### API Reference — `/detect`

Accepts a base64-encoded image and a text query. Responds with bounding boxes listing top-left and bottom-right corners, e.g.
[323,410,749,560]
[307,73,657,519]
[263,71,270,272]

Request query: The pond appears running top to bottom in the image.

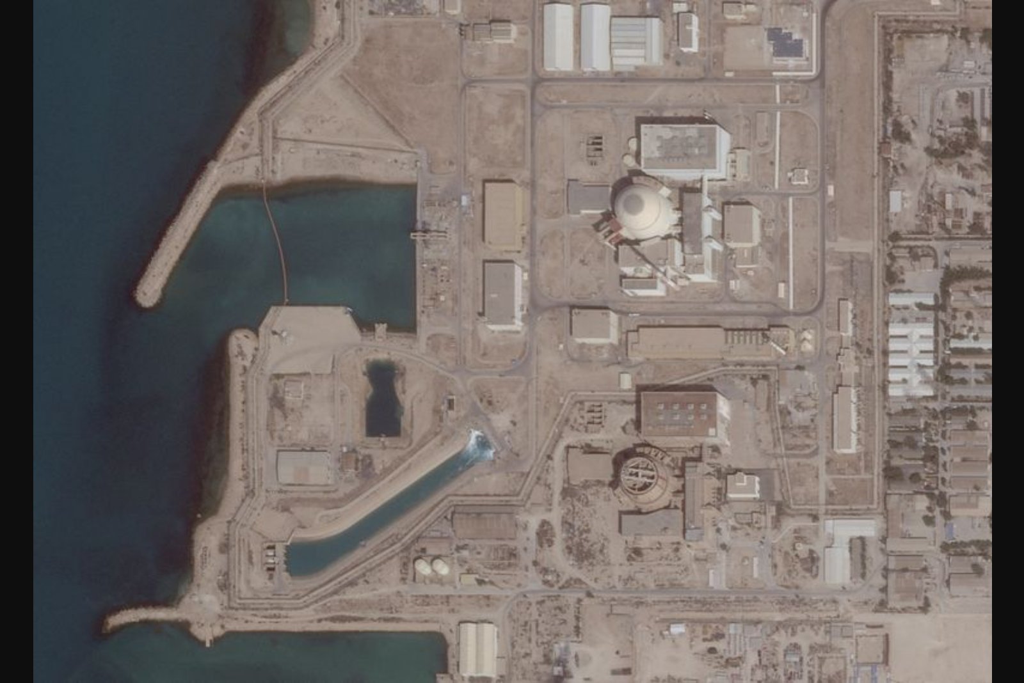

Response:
[365,360,403,448]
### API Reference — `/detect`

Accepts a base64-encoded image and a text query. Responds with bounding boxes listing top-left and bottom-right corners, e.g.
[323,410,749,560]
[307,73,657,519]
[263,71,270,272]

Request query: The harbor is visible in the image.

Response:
[259,306,363,373]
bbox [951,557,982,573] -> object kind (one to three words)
house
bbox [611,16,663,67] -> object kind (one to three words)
building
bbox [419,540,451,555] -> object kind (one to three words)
shed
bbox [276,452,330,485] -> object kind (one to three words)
building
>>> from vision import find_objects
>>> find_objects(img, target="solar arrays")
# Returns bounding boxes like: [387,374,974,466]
[767,27,802,56]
